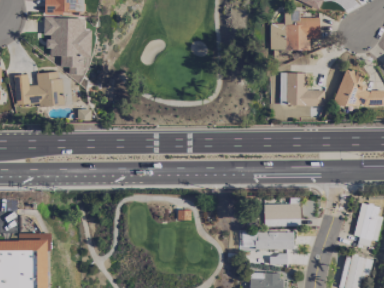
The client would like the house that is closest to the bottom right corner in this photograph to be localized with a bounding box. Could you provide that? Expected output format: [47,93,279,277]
[340,255,374,288]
